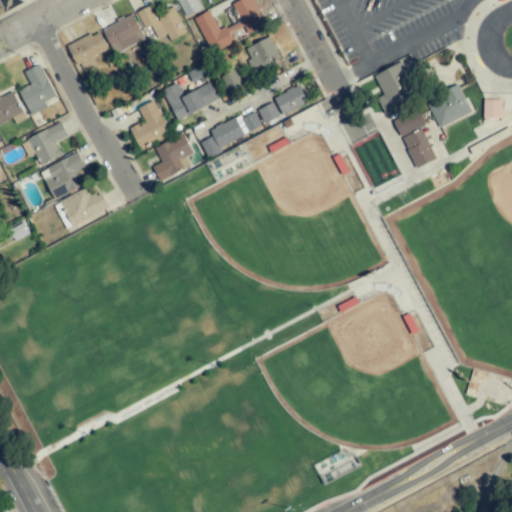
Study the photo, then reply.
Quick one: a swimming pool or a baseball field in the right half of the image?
baseball field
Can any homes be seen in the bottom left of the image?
No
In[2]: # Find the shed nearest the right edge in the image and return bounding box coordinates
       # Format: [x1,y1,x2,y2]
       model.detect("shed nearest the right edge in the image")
[484,99,504,119]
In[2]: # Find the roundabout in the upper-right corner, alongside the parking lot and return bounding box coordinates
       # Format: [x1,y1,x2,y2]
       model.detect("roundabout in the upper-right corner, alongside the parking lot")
[478,2,512,78]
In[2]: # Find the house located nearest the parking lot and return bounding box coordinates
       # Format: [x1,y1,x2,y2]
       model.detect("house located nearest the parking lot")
[376,63,406,113]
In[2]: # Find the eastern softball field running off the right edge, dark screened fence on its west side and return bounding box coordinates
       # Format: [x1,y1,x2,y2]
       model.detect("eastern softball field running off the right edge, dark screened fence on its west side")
[382,135,512,379]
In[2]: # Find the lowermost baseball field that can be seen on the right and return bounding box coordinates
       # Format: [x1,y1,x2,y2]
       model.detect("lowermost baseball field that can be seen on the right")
[256,292,456,452]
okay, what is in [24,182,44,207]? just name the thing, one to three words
swimming pool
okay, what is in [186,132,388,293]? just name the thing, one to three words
baseball field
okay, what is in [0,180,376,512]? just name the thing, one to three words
sports field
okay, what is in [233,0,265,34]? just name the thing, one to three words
house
